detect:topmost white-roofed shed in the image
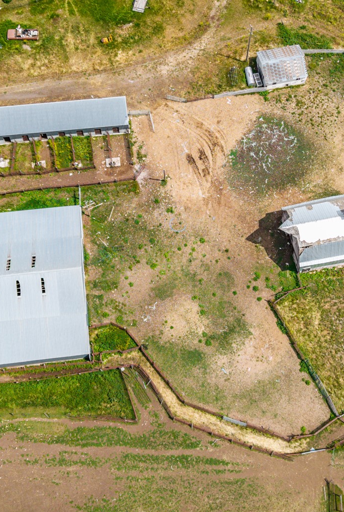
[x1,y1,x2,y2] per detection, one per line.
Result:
[250,42,307,93]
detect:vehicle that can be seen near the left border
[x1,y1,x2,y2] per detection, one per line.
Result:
[7,24,40,42]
